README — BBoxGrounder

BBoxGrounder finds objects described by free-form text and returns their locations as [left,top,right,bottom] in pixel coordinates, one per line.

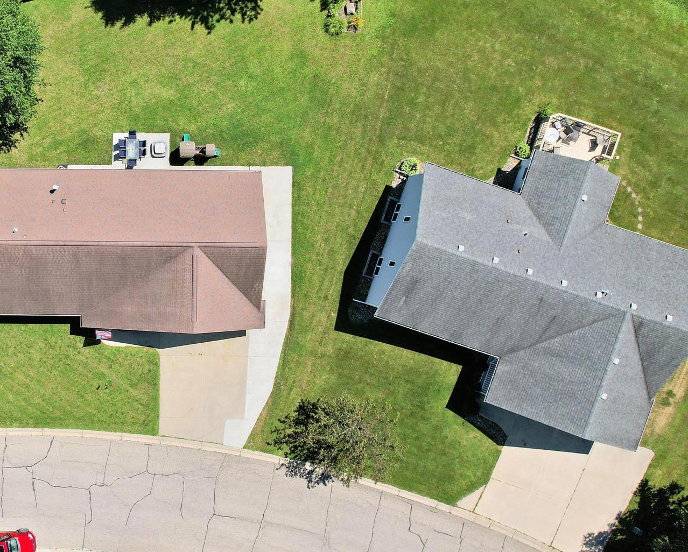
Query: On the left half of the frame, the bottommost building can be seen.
[0,166,267,333]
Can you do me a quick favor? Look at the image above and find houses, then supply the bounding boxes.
[346,149,688,453]
[0,166,267,333]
